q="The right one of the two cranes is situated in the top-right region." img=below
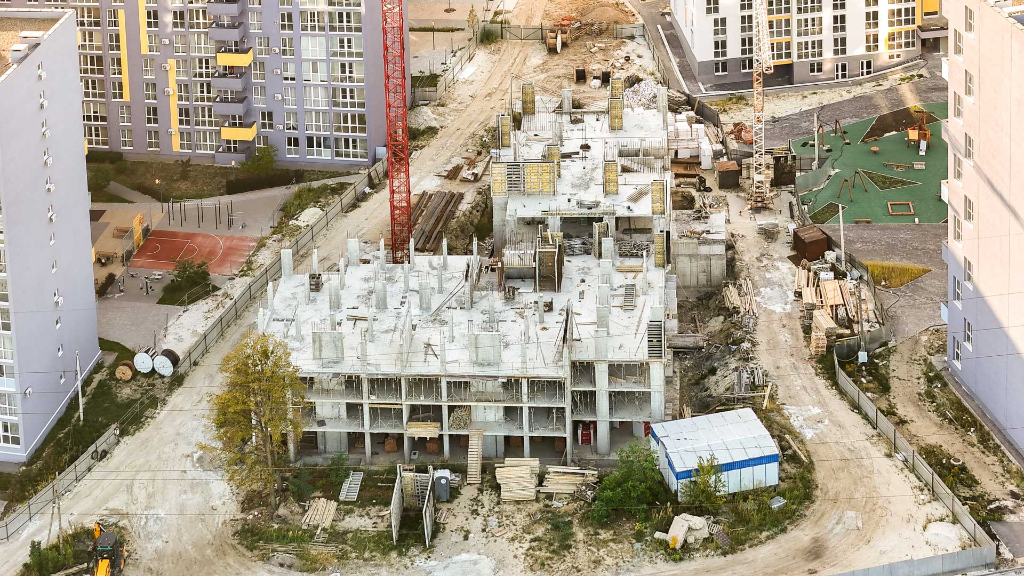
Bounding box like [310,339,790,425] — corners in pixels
[733,0,790,217]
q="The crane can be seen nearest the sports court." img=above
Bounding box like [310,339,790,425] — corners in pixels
[379,0,415,263]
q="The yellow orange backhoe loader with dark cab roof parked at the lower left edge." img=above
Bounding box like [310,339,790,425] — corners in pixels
[92,527,125,576]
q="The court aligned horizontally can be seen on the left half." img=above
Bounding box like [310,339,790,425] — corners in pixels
[128,230,262,275]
